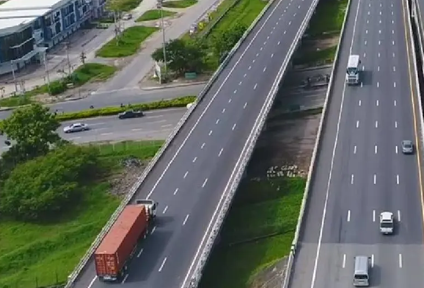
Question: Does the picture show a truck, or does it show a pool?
truck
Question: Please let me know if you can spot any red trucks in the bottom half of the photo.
Yes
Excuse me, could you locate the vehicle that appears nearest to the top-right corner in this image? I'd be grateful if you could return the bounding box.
[347,56,360,84]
